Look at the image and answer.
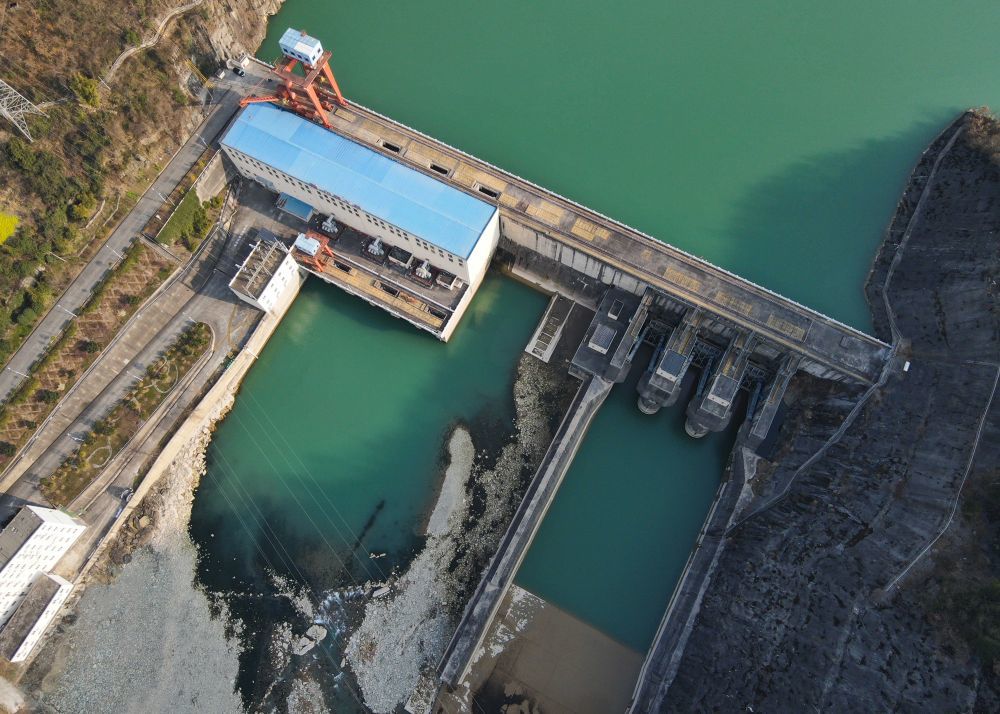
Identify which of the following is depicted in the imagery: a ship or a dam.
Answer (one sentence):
Looking from above, you can make out a dam.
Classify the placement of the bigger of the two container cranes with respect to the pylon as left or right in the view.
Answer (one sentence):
Compared with the pylon, the bigger of the two container cranes is located further to the right.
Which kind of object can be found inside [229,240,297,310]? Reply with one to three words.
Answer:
building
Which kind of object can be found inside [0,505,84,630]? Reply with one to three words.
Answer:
building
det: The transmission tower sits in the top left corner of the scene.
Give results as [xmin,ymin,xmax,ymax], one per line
[0,85,48,141]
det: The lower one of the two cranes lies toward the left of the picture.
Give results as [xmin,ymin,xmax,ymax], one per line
[291,228,336,273]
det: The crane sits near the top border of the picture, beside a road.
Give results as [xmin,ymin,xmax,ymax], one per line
[238,26,348,128]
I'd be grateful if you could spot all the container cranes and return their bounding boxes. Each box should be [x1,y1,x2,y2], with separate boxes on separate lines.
[238,26,348,128]
[291,228,336,273]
